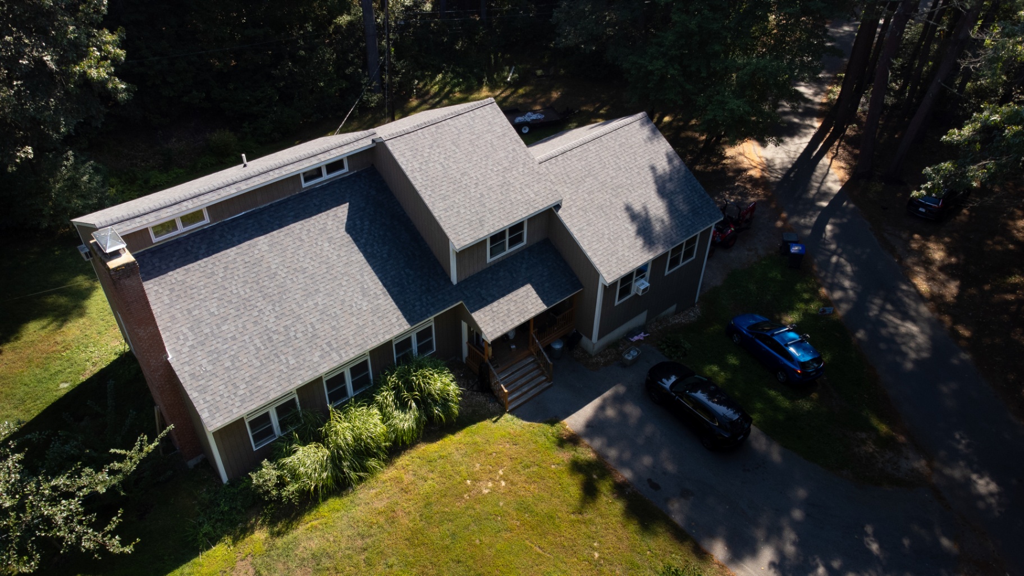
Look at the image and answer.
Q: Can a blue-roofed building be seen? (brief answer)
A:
No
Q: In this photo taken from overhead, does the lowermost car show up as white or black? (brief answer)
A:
black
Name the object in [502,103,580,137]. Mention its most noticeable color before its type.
black trailer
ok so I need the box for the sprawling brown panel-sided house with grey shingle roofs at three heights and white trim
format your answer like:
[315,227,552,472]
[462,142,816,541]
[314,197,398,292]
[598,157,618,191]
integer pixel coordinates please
[71,97,723,491]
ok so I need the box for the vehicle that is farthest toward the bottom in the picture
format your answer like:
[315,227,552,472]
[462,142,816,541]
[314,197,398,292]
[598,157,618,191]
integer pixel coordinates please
[640,360,760,452]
